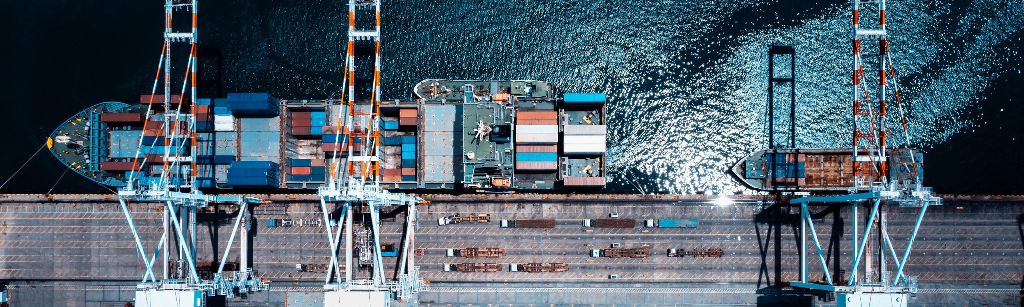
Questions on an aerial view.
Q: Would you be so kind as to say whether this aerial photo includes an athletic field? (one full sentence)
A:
No, I can't see a single athletic field in this photo.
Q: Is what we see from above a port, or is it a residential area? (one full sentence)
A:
This looks like a port.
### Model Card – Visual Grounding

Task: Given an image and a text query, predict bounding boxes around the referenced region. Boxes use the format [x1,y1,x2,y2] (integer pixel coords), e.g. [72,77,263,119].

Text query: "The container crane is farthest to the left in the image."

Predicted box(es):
[113,0,276,307]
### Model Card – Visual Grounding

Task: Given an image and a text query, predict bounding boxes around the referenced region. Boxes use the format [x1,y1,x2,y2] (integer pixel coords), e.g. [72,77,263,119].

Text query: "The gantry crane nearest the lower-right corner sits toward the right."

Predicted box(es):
[778,0,939,307]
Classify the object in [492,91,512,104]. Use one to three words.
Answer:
boat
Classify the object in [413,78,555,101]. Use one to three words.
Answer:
ship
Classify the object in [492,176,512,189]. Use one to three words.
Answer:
boat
